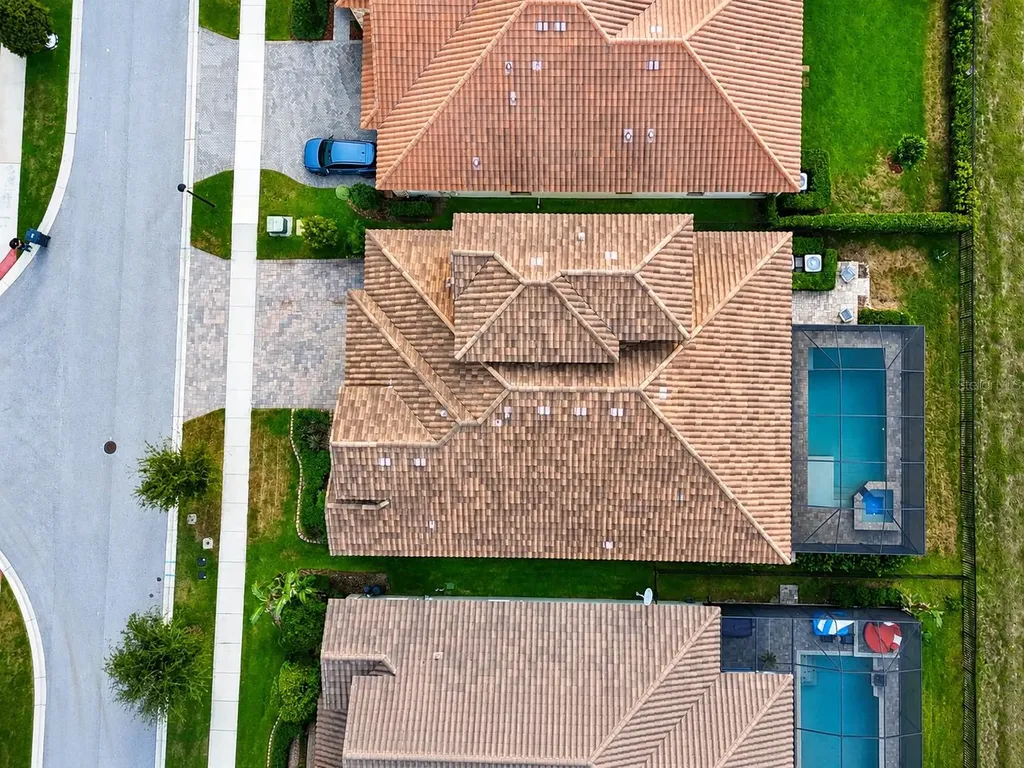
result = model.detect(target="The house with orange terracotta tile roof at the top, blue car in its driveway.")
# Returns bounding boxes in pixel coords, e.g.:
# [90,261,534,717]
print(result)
[334,0,805,203]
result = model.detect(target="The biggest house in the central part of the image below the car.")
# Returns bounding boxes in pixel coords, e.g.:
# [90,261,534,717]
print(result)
[325,211,797,565]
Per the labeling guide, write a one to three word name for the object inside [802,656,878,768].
swimming pool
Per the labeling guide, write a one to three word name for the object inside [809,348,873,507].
swimming pool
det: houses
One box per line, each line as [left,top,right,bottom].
[325,211,797,565]
[304,593,797,768]
[334,0,805,203]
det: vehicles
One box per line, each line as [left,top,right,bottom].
[305,135,377,177]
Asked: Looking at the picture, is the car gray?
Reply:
No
